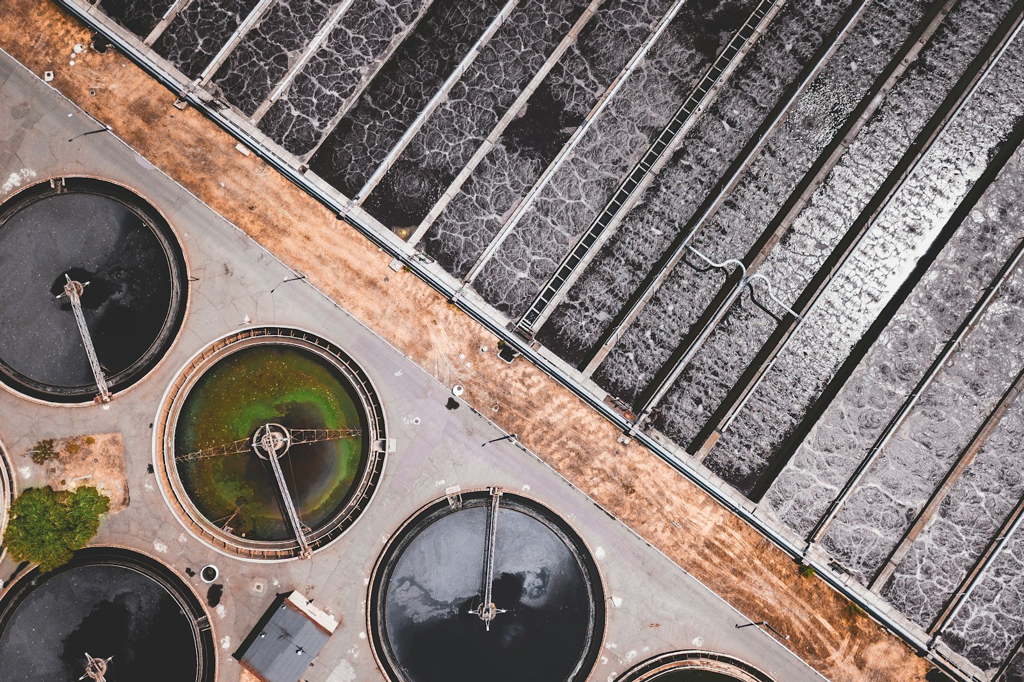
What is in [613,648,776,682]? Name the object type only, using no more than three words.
storage tank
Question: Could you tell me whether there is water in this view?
Yes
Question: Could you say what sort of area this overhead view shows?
industrial area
